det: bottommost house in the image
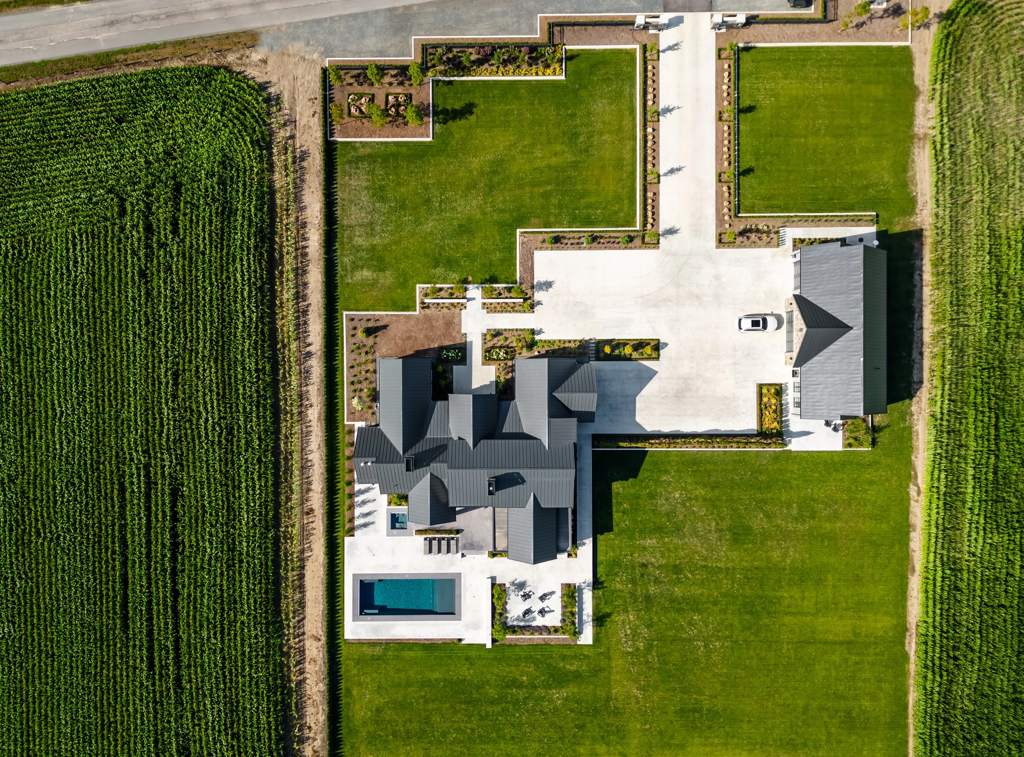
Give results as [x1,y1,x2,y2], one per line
[353,358,597,564]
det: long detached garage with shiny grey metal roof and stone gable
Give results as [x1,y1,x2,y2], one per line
[783,242,888,420]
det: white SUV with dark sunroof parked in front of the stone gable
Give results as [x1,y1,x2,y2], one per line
[737,315,779,334]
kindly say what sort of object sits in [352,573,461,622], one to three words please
swimming pool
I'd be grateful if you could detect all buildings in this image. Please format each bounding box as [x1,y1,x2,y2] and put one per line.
[783,242,888,420]
[353,358,597,564]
